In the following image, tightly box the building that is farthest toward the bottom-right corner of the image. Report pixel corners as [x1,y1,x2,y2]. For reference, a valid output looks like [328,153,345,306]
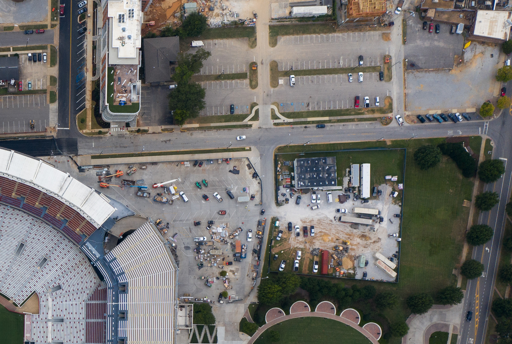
[292,156,337,190]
